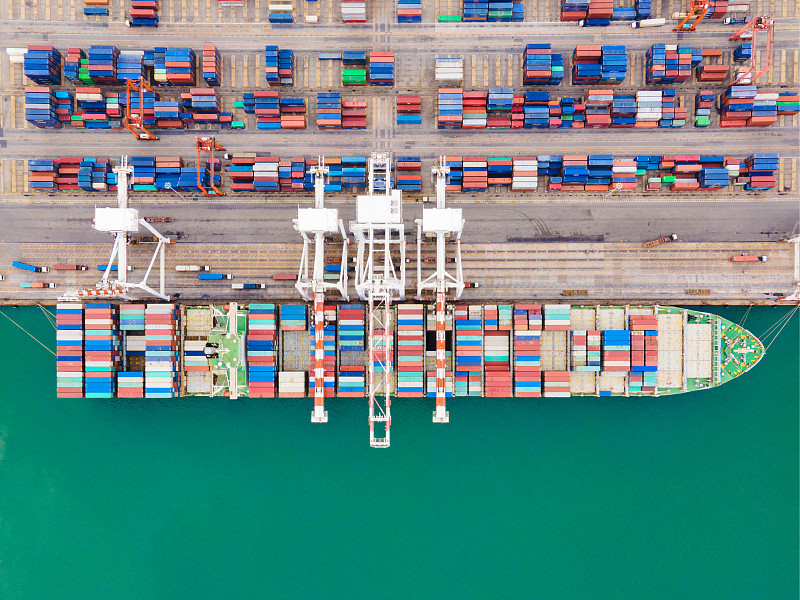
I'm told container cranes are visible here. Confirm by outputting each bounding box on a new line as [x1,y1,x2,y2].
[194,133,227,195]
[673,0,712,32]
[730,14,773,85]
[410,154,466,420]
[294,154,354,420]
[47,154,179,299]
[350,146,413,448]
[123,73,160,140]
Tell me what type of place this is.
port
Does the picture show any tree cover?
No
